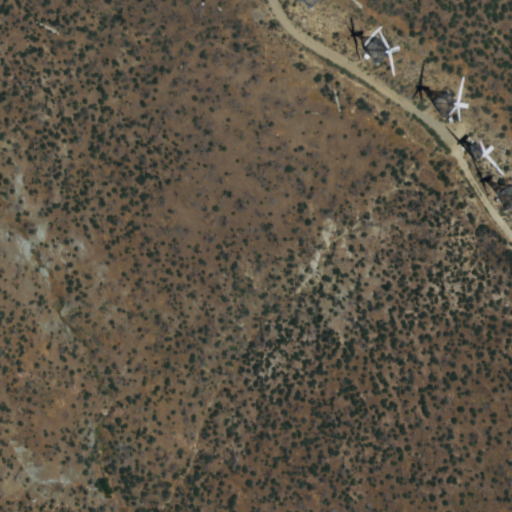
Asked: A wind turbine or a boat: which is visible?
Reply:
wind turbine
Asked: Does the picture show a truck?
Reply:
No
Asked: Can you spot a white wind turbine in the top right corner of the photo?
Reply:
Yes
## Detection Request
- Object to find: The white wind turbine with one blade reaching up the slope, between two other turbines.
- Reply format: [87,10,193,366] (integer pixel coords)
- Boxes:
[432,76,469,120]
